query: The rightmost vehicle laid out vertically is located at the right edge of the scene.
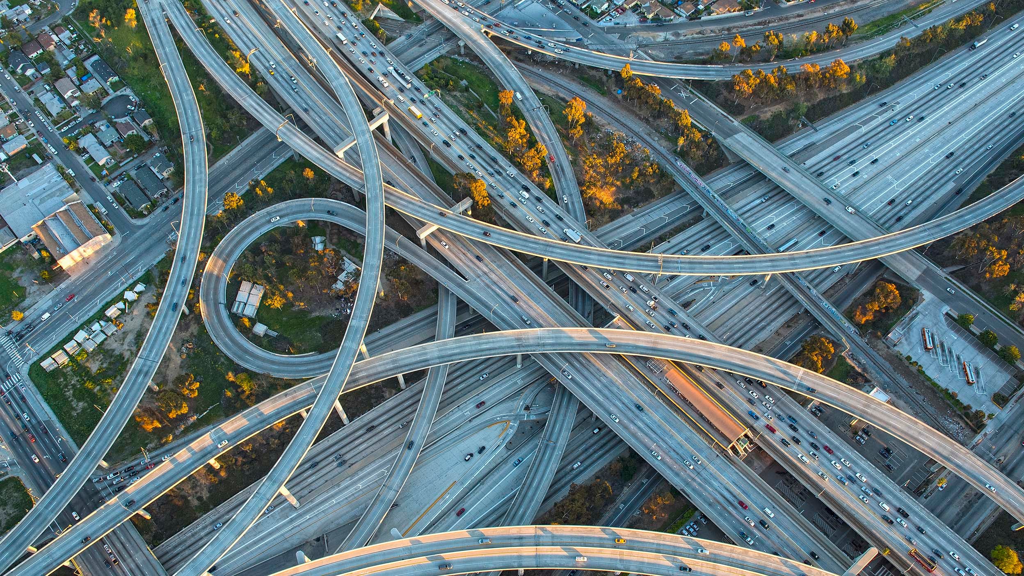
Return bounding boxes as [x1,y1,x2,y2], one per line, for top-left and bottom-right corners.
[963,359,975,386]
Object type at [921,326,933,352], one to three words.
vehicle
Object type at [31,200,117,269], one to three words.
building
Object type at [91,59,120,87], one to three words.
house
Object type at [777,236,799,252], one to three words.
vehicle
